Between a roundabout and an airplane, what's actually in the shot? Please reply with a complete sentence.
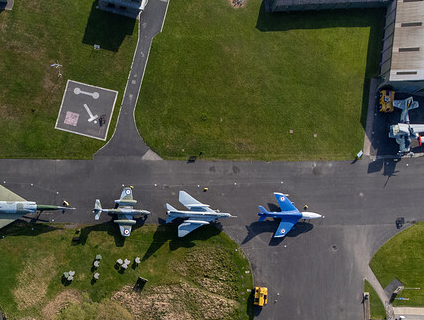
I can see an airplane in this picture.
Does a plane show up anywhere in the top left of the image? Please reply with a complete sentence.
No, there's no plane to be seen in the top left of the image.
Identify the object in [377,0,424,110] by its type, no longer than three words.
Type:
hangar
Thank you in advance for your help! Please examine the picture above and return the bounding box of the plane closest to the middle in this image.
[165,190,237,236]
